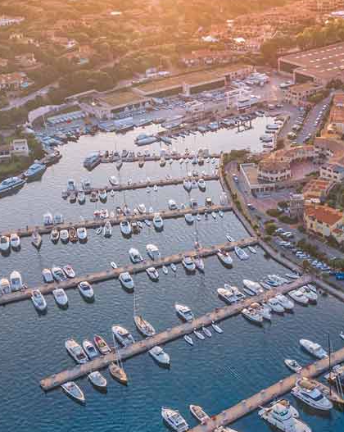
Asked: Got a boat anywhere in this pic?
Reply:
Yes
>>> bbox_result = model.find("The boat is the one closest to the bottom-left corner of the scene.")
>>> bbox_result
[60,378,84,404]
